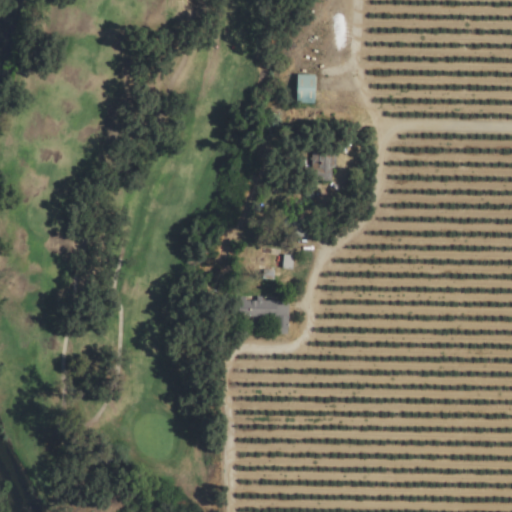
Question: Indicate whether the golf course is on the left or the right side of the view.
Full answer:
The golf course is on the left side of the image.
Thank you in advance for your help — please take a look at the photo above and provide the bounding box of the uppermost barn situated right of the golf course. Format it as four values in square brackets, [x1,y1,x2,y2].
[297,74,317,102]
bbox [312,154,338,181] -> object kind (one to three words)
house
